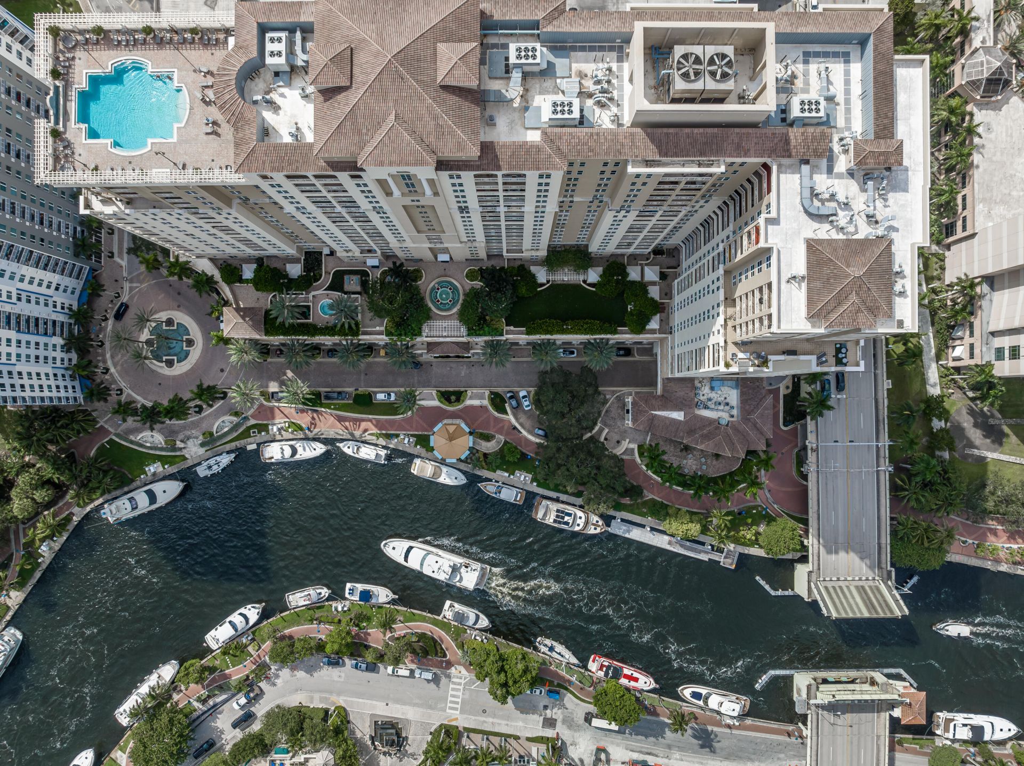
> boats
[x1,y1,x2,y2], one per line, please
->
[535,636,581,677]
[528,498,608,535]
[379,542,497,595]
[198,453,239,477]
[346,581,398,603]
[409,457,467,486]
[337,442,390,465]
[66,746,98,766]
[114,661,181,727]
[104,481,187,528]
[478,482,528,505]
[287,585,330,609]
[930,622,973,638]
[260,439,328,463]
[440,600,491,629]
[926,709,1024,743]
[677,683,752,718]
[0,622,31,680]
[203,603,266,650]
[585,653,659,690]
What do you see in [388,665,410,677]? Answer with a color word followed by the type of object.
white vehicle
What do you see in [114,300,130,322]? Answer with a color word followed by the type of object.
black car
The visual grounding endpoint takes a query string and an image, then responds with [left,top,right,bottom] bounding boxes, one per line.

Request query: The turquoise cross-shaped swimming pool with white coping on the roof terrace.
[71,57,190,156]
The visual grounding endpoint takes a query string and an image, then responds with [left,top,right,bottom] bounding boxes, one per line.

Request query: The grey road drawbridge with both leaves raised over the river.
[785,336,911,766]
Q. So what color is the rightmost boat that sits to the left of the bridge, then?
white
